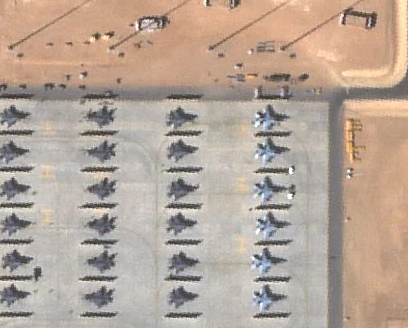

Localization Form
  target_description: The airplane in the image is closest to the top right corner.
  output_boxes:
[254,108,286,130]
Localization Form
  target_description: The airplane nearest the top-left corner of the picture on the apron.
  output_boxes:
[0,109,26,126]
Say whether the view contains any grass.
No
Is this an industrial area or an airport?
airport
